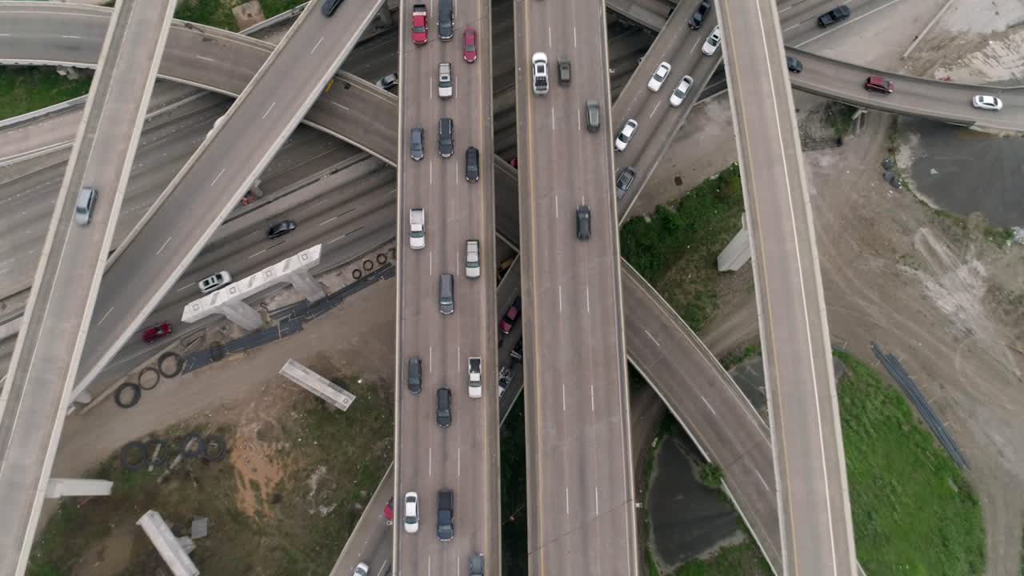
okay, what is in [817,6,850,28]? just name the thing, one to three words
truck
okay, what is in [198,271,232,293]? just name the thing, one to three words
car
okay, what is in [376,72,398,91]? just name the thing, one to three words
car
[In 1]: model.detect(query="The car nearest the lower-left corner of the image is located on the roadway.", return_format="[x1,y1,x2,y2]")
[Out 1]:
[142,321,174,342]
